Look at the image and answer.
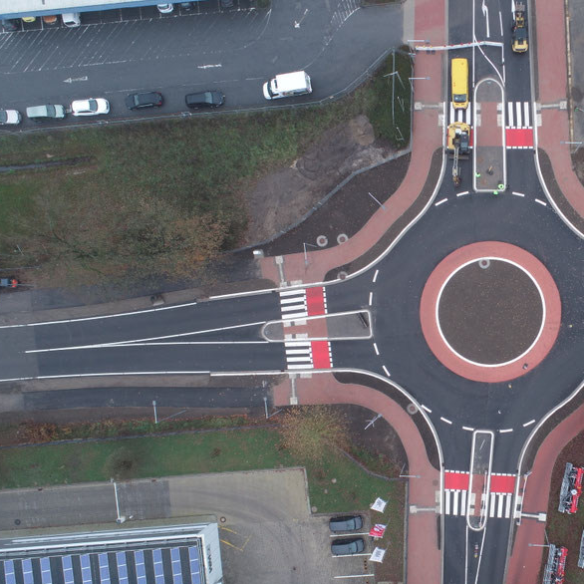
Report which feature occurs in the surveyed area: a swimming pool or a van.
van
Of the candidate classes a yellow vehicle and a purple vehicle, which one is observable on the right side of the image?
yellow vehicle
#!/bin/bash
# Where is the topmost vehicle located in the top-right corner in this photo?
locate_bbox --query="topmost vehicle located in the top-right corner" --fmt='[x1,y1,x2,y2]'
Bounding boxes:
[511,6,530,54]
